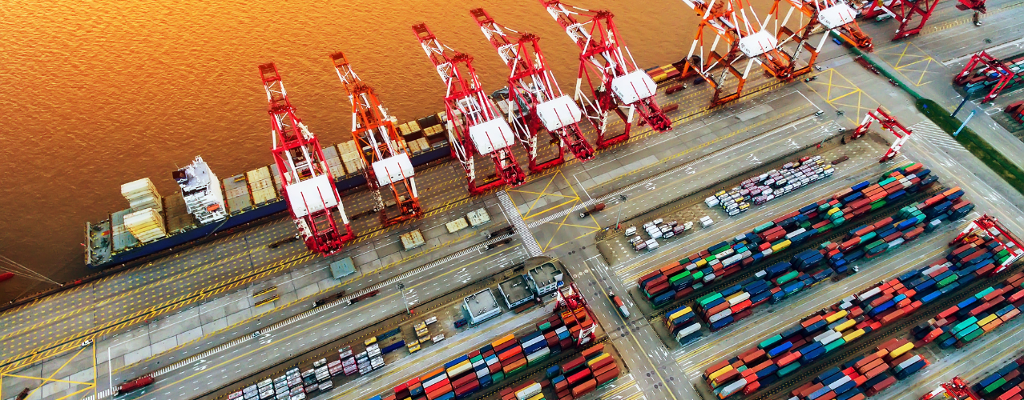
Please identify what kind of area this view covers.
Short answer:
port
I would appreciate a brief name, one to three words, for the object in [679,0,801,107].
container crane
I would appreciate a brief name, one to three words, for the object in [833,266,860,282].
vehicle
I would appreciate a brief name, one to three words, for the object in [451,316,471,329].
vehicle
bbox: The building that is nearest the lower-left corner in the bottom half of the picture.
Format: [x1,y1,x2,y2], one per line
[464,289,499,325]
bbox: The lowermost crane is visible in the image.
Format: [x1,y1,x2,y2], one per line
[918,373,983,400]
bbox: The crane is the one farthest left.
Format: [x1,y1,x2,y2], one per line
[257,61,360,258]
